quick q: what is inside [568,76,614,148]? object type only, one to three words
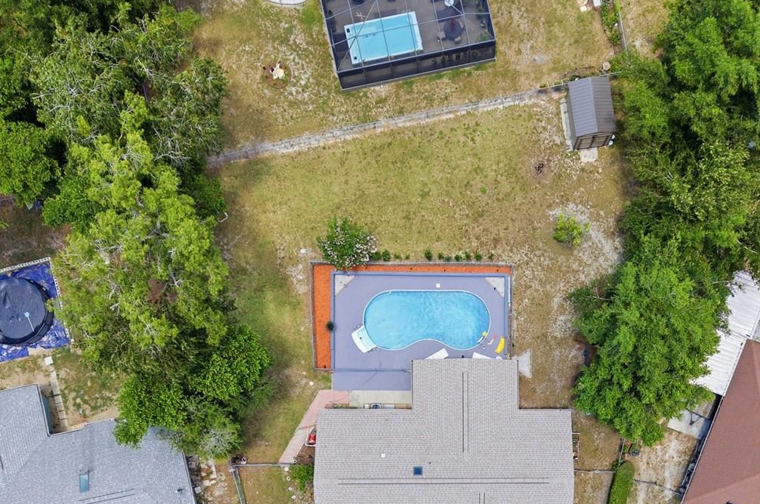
shed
